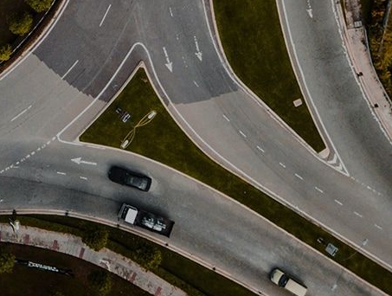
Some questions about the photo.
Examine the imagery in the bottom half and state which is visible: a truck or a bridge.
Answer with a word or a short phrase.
truck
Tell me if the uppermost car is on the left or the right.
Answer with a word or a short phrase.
left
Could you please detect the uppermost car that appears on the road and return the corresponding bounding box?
[106,166,153,192]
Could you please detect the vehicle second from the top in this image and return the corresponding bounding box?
[117,204,172,238]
